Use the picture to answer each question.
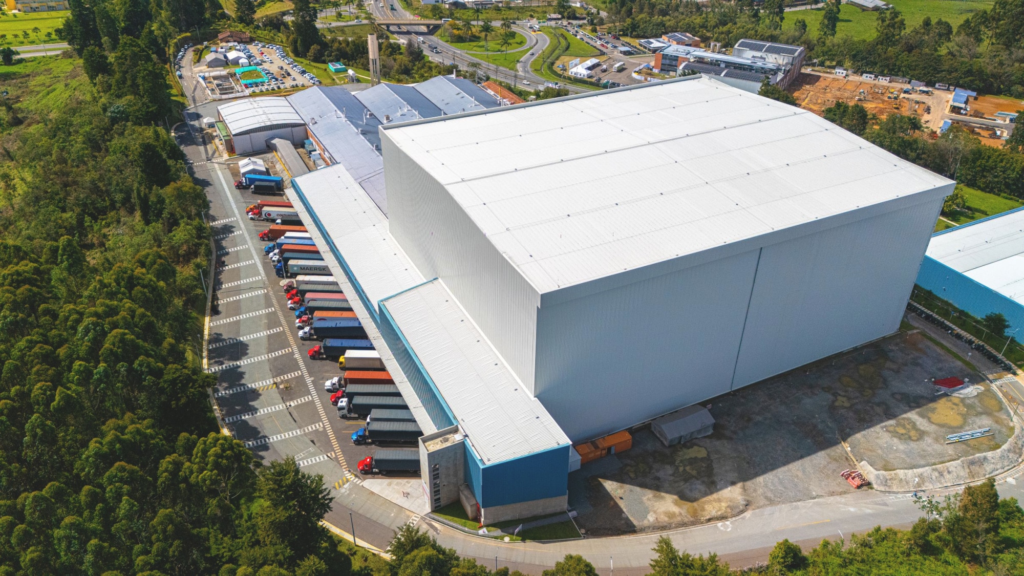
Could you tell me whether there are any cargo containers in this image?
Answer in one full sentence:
Yes, looking at the shot, I can spot a cargo container.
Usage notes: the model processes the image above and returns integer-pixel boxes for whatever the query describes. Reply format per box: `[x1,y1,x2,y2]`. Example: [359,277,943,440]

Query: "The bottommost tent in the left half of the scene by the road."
[234,156,269,179]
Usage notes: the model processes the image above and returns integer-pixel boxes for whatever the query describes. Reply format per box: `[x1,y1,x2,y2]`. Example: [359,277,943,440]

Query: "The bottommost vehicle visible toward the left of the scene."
[353,450,422,474]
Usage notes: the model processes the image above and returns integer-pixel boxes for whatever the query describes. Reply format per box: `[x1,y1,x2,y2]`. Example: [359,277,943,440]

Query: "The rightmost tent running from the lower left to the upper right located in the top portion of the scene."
[572,58,606,80]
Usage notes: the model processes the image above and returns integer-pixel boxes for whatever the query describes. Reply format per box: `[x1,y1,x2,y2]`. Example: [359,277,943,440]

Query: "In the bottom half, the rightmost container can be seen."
[578,431,633,463]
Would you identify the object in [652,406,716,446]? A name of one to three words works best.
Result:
tent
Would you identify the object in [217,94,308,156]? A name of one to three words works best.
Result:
building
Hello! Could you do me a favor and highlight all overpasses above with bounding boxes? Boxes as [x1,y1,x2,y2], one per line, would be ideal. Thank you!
[371,17,447,35]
